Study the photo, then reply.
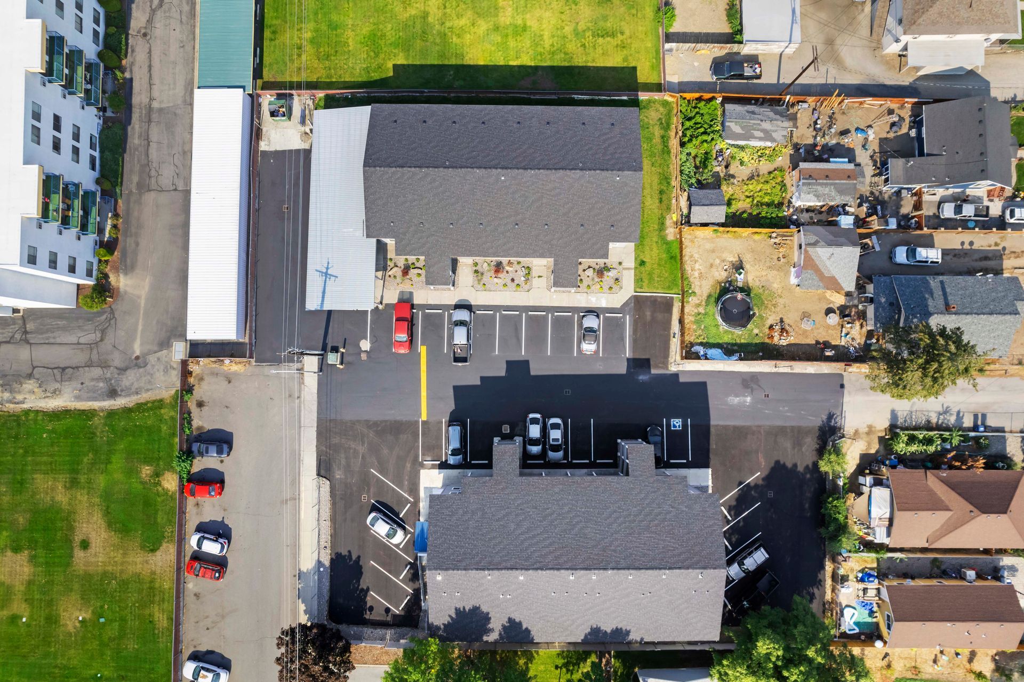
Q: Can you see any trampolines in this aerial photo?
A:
Yes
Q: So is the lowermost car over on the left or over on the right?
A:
left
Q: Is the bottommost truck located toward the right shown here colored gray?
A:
No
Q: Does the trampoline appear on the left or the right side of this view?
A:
right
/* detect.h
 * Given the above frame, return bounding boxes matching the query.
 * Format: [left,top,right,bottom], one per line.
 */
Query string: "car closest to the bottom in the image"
[184,658,232,682]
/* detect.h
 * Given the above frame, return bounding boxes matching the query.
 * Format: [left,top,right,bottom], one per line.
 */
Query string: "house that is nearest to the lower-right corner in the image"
[875,577,1024,650]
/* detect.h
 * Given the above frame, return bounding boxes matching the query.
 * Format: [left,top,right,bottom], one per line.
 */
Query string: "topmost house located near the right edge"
[884,0,1019,76]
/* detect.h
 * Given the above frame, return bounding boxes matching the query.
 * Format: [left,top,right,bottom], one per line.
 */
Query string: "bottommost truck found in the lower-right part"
[728,568,780,612]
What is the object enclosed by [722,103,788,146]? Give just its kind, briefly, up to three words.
shed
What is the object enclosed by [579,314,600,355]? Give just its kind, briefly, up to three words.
car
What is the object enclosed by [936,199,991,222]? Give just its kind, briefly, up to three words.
truck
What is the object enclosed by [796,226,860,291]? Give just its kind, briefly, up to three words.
building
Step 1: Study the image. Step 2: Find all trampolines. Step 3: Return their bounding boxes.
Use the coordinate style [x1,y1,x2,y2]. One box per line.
[715,289,760,330]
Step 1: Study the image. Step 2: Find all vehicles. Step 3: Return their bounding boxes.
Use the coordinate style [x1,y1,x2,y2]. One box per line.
[184,480,226,501]
[366,510,406,544]
[192,439,233,460]
[545,417,566,463]
[444,421,465,465]
[890,244,943,266]
[190,531,231,556]
[728,568,780,612]
[524,412,545,455]
[186,557,228,582]
[726,540,772,580]
[710,58,762,83]
[391,301,413,353]
[936,199,991,222]
[184,658,232,682]
[450,309,472,367]
[645,424,665,468]
[579,314,600,355]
